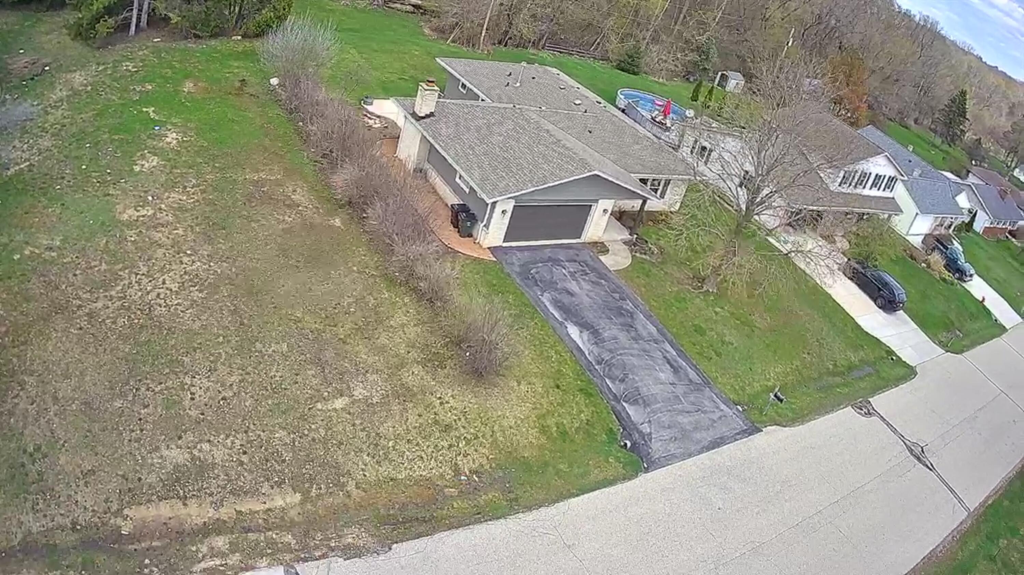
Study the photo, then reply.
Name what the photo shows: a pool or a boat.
pool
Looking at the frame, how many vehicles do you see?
two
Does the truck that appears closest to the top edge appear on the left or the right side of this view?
right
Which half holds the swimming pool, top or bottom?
top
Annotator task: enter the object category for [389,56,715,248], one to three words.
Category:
house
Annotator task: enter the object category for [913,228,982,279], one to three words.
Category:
truck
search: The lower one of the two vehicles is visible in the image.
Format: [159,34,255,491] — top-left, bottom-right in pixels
[837,257,911,307]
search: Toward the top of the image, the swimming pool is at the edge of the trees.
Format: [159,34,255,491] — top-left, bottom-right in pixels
[613,90,701,133]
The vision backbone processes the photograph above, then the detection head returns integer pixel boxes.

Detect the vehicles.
[837,257,911,307]
[913,228,982,279]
